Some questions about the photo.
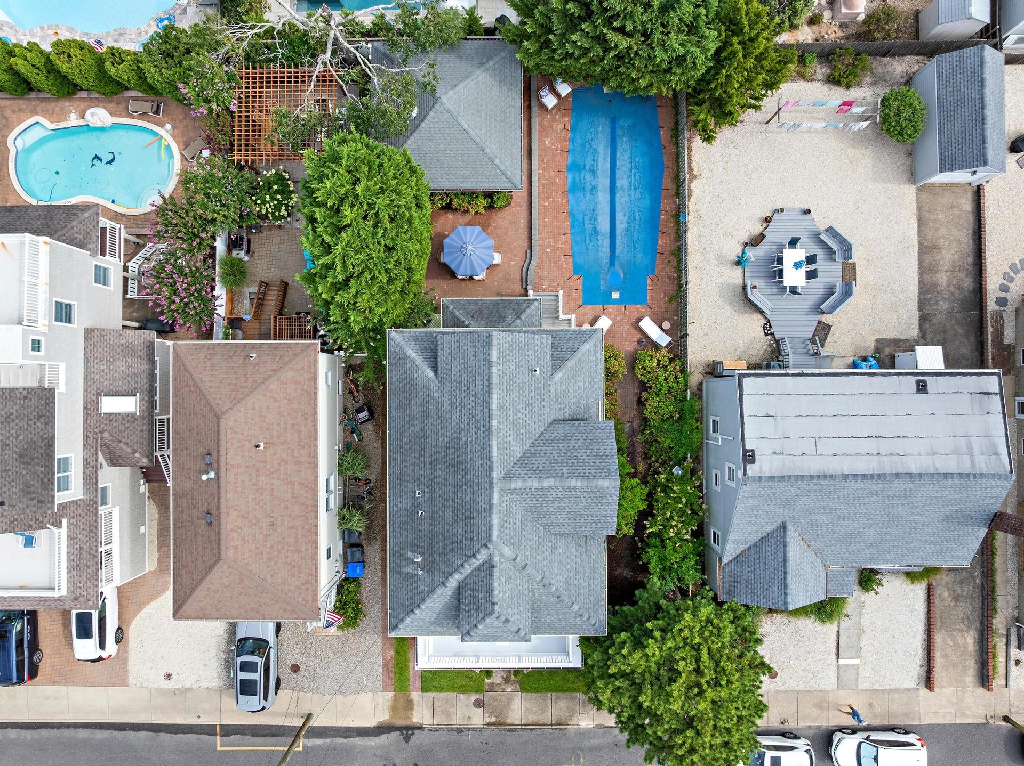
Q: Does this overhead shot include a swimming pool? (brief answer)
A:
Yes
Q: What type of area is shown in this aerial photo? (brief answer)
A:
residential area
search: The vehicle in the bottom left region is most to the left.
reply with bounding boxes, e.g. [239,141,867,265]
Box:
[0,610,41,691]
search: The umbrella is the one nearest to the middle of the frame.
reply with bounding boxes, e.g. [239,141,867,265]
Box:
[445,227,492,274]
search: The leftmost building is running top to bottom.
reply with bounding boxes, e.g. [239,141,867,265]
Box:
[0,204,175,610]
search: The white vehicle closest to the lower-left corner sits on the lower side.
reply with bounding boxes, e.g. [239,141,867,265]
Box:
[68,586,123,665]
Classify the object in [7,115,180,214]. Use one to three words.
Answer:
swimming pool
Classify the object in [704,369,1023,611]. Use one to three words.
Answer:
house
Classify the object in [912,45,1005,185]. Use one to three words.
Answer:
shed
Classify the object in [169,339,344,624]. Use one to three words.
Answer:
house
